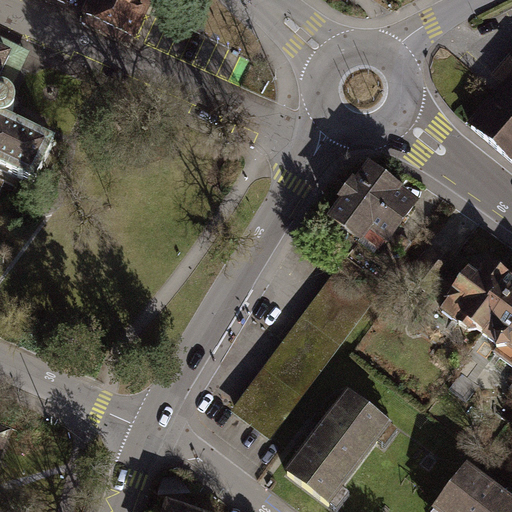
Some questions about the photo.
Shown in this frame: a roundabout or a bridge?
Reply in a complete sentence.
There is a roundabout in the scene.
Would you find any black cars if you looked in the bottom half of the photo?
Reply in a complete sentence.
Yes, I can see a black car in the bottom half of the photo.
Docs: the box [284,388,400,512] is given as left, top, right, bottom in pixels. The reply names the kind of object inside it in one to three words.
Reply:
building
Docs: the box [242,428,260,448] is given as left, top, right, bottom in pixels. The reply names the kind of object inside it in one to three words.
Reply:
car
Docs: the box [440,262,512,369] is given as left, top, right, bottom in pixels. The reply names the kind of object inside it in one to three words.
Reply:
house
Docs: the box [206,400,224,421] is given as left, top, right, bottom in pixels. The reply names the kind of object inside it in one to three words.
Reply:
car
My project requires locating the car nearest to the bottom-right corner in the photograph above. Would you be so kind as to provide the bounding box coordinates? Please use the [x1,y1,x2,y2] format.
[260,443,278,465]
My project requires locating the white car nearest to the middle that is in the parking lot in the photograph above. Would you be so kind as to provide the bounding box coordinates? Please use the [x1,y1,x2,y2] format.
[265,306,282,326]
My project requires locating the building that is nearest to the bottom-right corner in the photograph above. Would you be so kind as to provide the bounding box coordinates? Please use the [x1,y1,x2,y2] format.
[431,460,512,512]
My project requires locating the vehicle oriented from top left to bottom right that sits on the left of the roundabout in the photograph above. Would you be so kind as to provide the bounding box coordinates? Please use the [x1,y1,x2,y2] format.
[196,107,218,124]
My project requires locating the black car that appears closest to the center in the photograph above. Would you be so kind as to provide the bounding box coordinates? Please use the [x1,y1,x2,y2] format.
[254,300,272,322]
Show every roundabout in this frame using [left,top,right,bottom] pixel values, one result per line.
[302,28,425,150]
